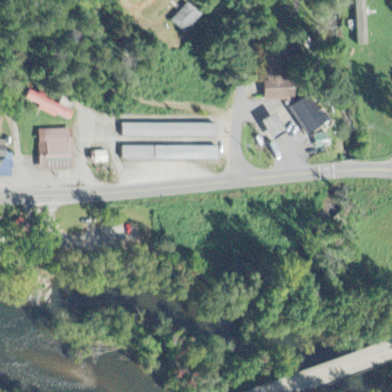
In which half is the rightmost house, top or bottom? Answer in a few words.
top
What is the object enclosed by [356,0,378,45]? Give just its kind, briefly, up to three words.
house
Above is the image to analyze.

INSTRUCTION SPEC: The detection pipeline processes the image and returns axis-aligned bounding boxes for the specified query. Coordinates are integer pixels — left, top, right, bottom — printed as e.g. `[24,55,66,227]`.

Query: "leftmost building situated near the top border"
[172,0,202,31]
